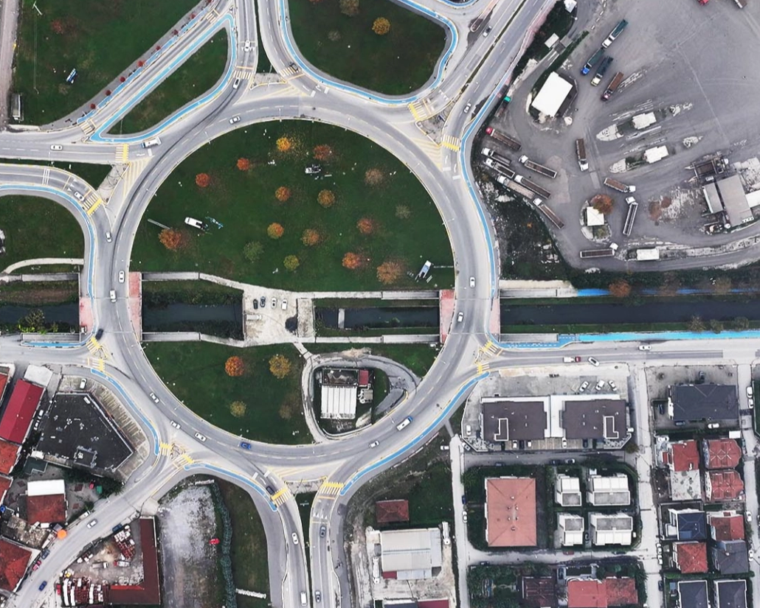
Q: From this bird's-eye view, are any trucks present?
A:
Yes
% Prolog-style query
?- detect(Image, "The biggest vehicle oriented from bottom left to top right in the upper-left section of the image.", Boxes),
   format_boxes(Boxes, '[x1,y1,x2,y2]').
[64,67,79,84]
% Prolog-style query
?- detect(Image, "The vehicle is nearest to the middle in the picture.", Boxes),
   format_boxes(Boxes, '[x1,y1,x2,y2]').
[419,260,432,278]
